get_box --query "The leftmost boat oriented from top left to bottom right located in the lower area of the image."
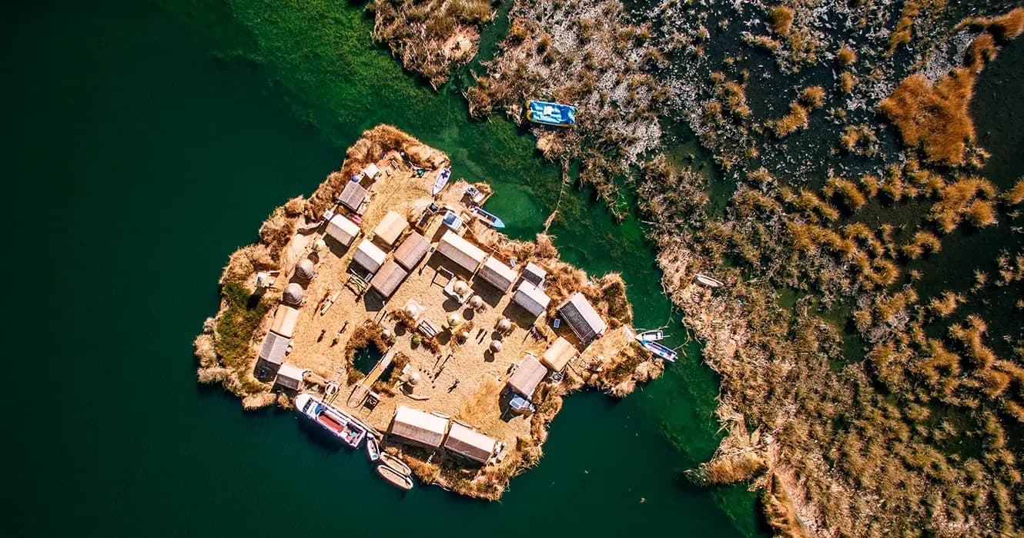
[294,397,365,448]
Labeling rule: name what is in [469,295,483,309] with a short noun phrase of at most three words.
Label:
umbrella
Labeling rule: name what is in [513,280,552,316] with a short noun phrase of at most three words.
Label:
building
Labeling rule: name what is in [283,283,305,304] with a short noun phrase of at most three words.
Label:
shed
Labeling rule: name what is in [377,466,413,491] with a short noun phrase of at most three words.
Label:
boat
